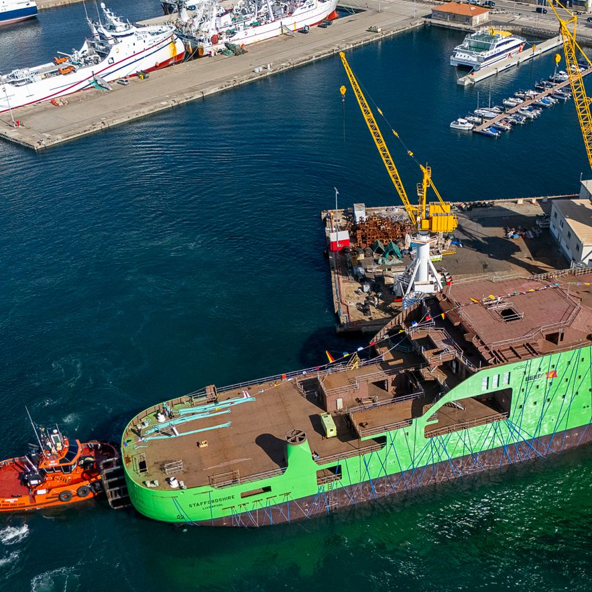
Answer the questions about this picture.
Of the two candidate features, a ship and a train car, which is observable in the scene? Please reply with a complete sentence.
The one in the frame is a ship.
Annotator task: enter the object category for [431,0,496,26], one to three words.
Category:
building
